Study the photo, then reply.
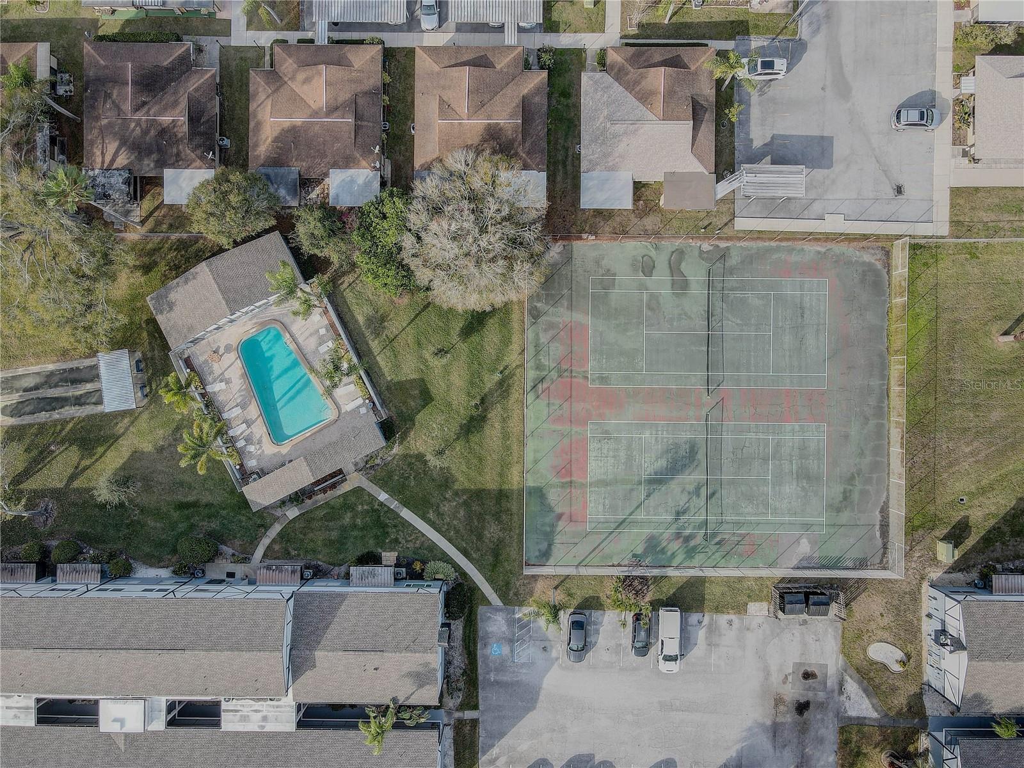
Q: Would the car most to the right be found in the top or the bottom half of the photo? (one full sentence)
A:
The car most to the right is in the top half of the image.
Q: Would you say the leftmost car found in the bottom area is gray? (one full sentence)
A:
Yes, the leftmost car found in the bottom area appears gray.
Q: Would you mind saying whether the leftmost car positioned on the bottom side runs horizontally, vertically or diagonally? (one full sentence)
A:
Seen from above, the leftmost car positioned on the bottom side lies vertically.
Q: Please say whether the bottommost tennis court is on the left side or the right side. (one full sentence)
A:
The bottommost tennis court sits on the right side.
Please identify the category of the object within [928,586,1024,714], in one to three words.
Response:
building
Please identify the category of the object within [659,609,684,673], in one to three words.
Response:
truck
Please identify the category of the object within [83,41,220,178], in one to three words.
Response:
house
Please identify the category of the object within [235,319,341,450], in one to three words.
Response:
swimming pool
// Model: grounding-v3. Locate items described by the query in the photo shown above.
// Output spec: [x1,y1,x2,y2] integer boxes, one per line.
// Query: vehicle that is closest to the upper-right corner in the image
[890,107,938,131]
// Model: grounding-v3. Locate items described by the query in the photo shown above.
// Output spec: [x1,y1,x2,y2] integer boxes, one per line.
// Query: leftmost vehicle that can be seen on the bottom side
[566,612,589,662]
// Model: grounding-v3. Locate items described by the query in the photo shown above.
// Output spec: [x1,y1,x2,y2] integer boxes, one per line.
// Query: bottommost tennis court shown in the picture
[525,404,889,568]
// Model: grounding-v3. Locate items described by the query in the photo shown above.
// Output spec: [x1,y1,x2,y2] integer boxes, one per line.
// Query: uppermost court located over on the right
[525,243,889,404]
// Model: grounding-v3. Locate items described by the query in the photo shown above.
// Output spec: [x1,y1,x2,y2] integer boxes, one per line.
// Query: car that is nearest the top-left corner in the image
[417,0,440,30]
